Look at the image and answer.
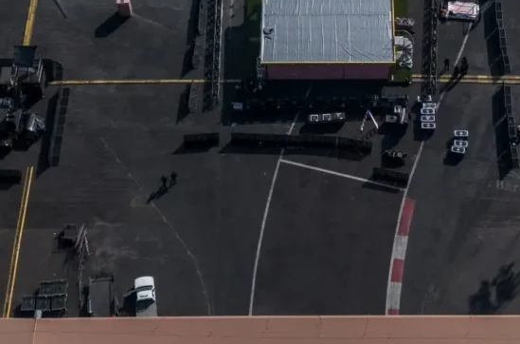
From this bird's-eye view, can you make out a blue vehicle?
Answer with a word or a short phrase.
No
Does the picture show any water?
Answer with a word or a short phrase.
No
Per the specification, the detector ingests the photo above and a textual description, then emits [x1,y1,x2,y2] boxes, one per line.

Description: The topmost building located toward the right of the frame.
[258,0,396,82]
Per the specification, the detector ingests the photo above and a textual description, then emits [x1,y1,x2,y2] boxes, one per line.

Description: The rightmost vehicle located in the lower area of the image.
[129,267,158,315]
